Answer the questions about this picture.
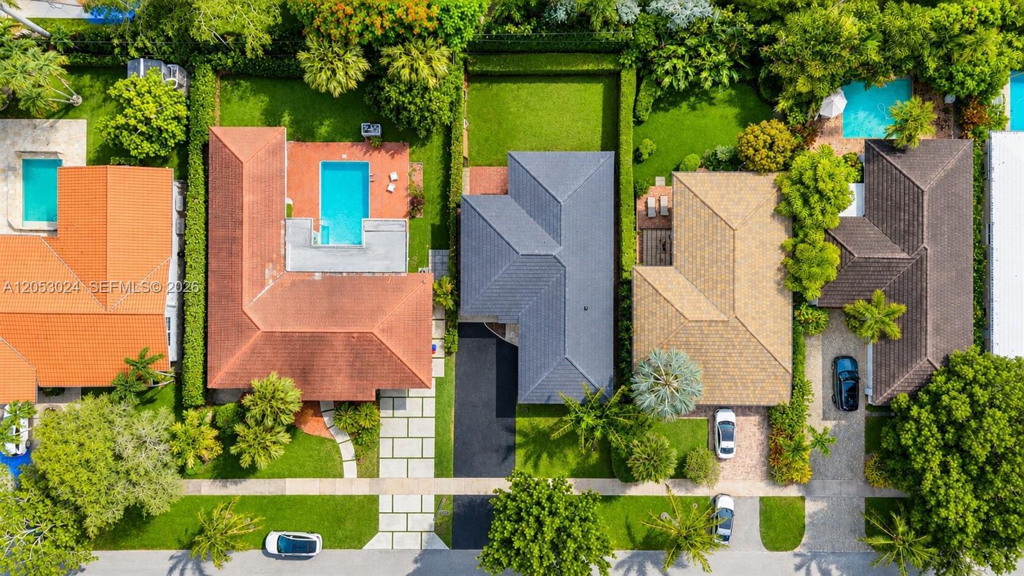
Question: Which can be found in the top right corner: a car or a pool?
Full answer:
There is a pool in the top right corner.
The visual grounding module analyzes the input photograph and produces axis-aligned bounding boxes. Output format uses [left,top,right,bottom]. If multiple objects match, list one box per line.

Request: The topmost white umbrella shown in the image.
[818,91,844,117]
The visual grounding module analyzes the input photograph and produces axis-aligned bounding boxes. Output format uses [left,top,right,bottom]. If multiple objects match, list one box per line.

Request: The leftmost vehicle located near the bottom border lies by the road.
[268,529,321,559]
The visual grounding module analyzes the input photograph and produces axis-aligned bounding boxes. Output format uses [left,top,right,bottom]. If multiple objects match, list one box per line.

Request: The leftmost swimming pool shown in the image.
[12,151,68,230]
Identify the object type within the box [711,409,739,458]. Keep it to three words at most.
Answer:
car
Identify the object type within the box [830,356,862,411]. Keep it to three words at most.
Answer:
car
